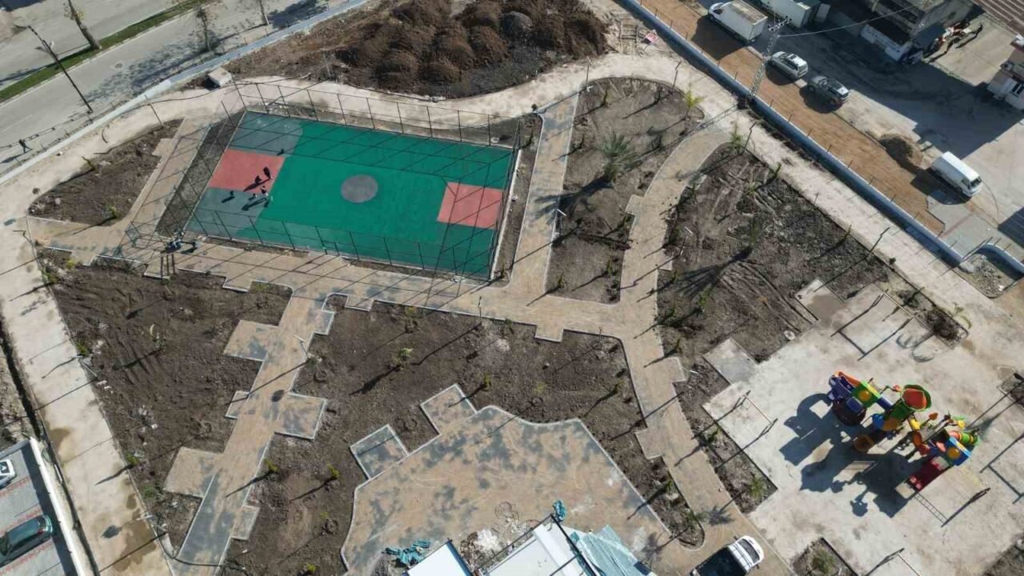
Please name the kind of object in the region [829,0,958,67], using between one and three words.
building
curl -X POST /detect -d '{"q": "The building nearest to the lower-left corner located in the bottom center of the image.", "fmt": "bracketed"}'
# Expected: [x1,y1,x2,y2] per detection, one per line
[408,534,486,576]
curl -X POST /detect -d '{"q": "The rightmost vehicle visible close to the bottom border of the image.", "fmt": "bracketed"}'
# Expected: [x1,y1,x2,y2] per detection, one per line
[684,537,764,576]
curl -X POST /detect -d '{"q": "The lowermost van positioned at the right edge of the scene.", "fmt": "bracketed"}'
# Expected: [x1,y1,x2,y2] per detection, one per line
[930,147,987,196]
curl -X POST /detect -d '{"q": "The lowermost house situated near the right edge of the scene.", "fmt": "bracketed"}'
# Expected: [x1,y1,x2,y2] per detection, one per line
[988,51,1024,105]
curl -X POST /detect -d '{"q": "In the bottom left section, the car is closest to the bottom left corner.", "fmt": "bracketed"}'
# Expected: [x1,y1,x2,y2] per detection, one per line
[0,514,59,569]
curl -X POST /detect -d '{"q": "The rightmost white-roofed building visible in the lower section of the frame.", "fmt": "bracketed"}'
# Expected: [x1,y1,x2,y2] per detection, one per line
[469,513,598,576]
